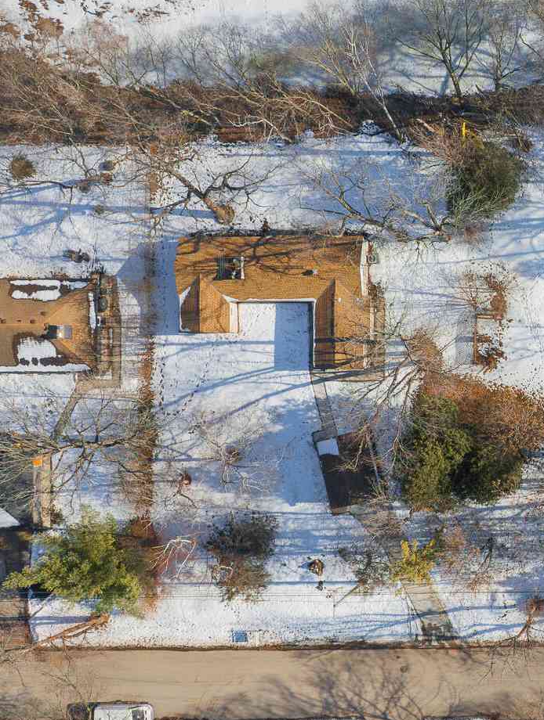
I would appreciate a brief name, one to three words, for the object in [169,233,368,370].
house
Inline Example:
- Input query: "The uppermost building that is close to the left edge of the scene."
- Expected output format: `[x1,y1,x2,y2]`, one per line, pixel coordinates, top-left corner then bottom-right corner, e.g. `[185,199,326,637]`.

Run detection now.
[0,278,101,376]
